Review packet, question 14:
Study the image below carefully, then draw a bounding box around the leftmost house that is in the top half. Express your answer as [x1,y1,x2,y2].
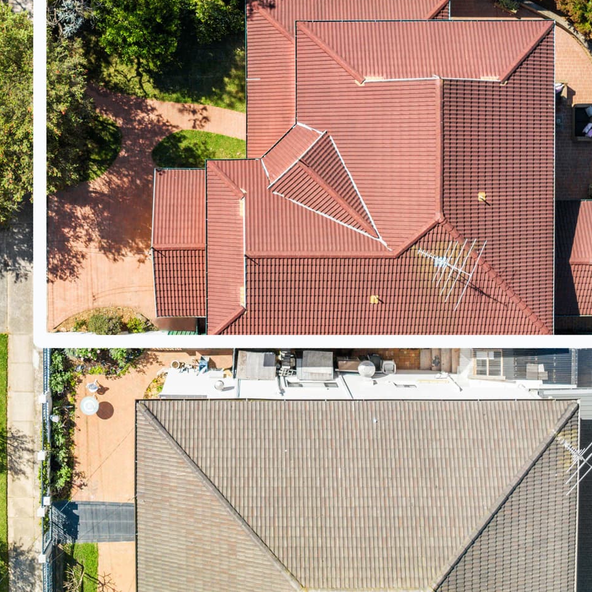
[148,0,558,344]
